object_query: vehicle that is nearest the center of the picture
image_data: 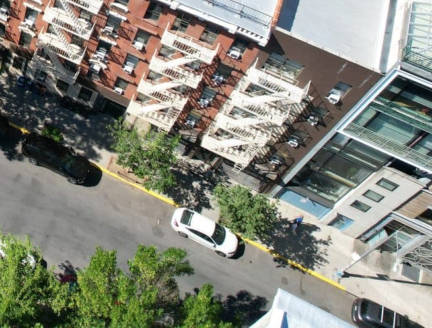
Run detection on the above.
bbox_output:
[167,205,245,263]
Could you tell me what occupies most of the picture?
buildings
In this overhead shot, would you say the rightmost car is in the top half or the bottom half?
bottom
